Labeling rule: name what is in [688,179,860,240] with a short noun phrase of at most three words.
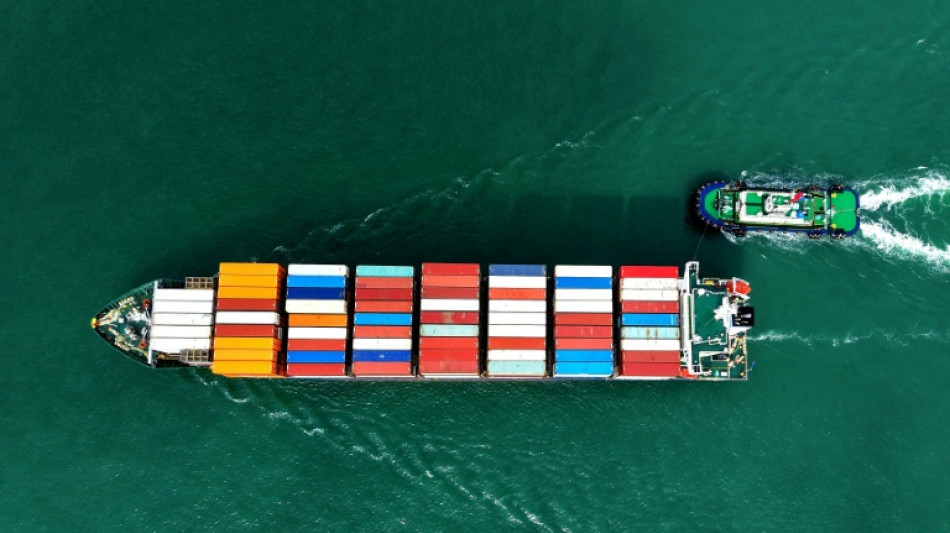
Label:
boat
